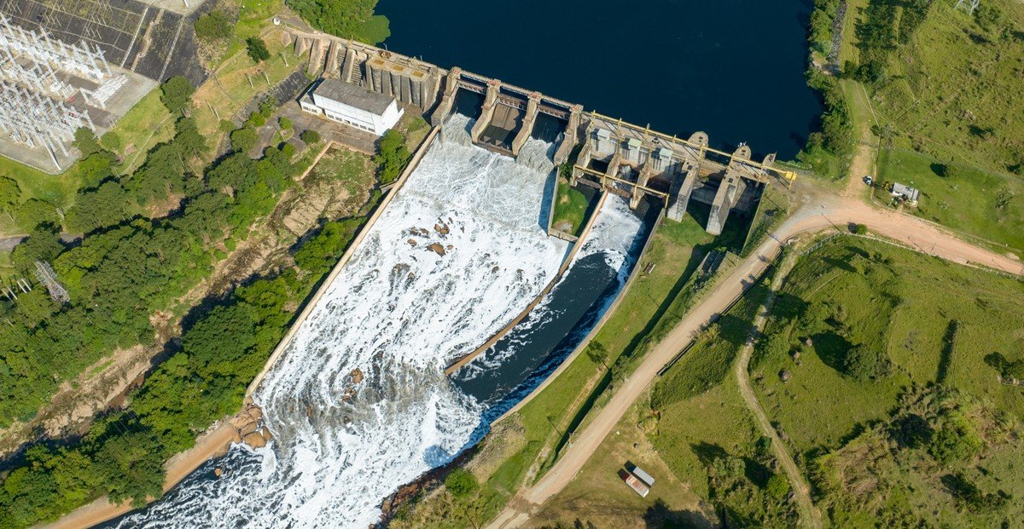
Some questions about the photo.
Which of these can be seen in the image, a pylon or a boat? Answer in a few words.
pylon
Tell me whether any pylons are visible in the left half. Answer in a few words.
Yes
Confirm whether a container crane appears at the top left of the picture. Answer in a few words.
No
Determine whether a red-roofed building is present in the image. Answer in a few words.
No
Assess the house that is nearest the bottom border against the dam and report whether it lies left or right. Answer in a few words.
on the right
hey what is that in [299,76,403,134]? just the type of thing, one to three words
building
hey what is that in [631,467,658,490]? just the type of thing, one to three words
truck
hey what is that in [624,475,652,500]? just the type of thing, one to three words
truck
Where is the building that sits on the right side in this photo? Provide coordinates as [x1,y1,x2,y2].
[893,182,925,209]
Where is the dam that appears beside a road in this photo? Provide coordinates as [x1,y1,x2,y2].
[279,25,780,232]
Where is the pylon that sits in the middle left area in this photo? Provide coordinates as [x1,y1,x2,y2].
[29,257,69,307]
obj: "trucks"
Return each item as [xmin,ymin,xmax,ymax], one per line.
[624,475,652,500]
[631,467,658,490]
